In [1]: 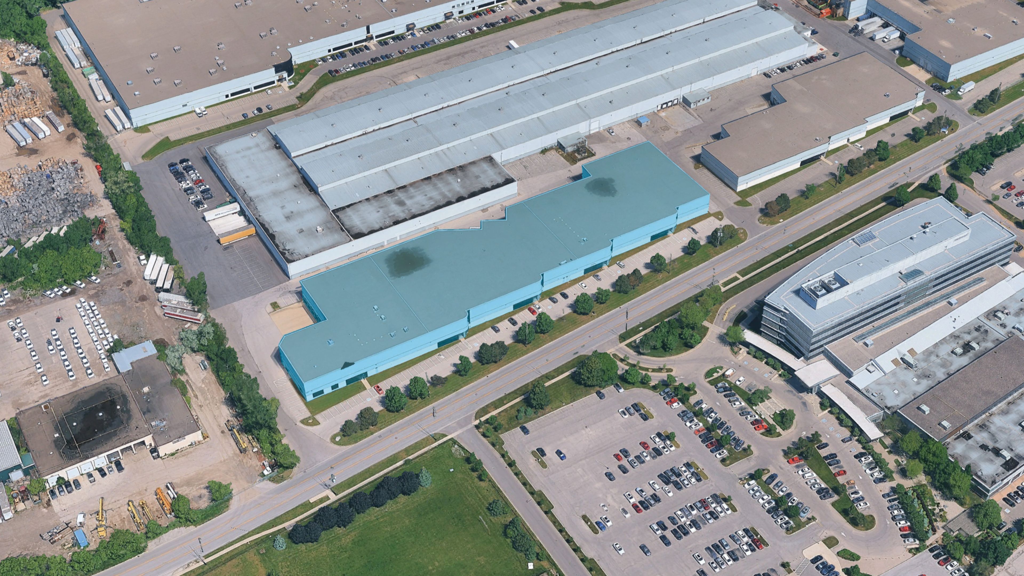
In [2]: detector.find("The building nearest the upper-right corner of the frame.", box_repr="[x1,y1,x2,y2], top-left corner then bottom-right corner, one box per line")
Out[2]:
[863,0,1024,82]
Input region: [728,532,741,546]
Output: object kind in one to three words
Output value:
vehicle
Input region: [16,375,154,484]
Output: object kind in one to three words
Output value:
building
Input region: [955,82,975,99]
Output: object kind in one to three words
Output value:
vehicle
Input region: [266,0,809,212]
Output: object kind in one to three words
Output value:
warehouse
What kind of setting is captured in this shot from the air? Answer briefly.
industrial area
